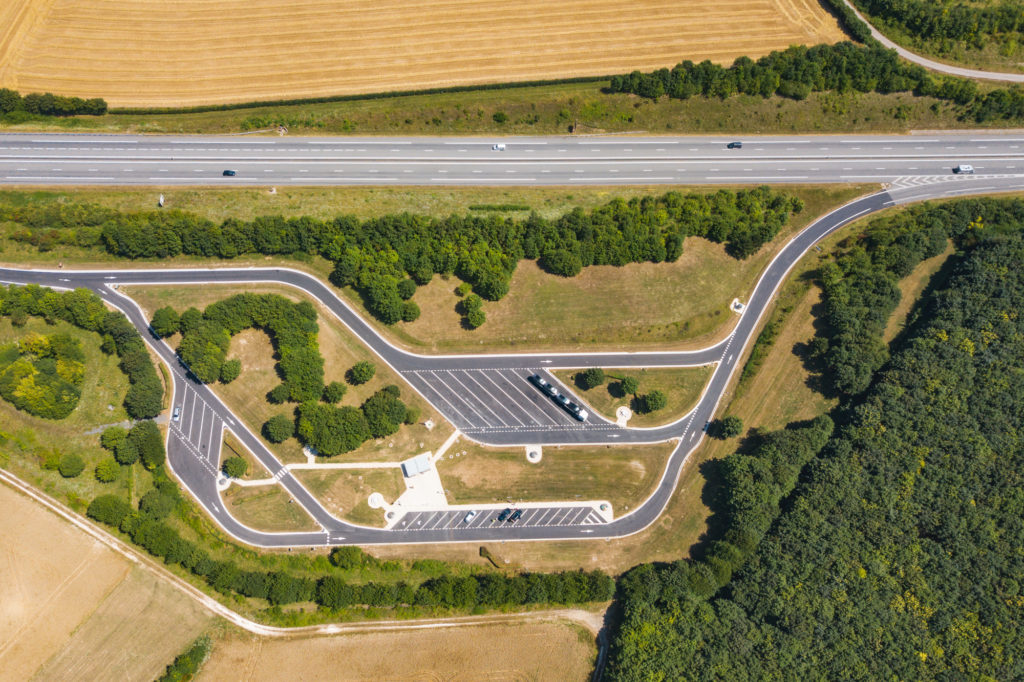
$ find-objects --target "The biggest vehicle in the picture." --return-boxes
[536,375,590,421]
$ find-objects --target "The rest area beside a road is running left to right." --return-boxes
[0,189,894,548]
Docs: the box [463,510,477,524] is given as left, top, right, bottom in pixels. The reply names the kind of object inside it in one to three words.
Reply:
car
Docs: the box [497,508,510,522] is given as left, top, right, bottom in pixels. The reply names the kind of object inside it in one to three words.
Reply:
vehicle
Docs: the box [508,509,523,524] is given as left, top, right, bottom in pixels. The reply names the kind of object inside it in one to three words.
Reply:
car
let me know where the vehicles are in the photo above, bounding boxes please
[536,375,590,421]
[497,508,510,522]
[728,143,741,149]
[463,510,477,524]
[569,400,582,412]
[548,383,561,395]
[508,509,523,524]
[558,392,571,404]
[955,165,973,174]
[223,170,236,176]
[172,407,181,422]
[491,142,506,151]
